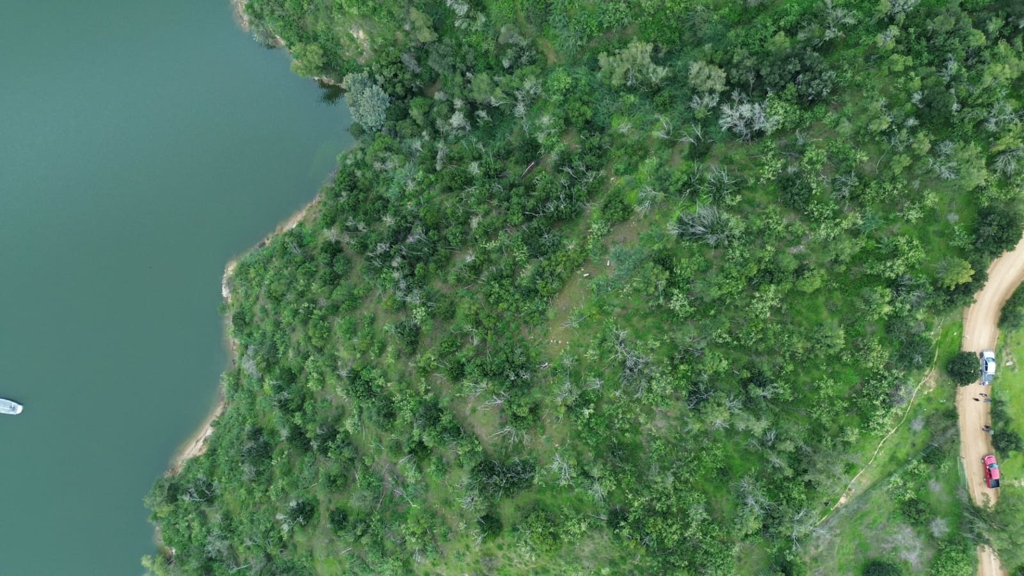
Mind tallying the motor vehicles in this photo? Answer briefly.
two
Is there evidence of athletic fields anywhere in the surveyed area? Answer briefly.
No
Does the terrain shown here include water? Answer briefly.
Yes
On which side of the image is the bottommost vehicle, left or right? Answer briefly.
right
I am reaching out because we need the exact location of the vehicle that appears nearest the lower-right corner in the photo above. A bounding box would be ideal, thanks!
[982,455,1002,492]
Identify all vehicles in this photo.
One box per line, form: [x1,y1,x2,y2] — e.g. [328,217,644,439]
[979,351,999,386]
[982,455,1002,492]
